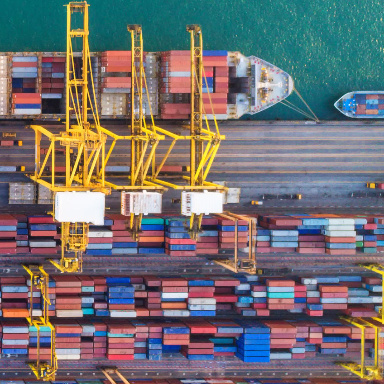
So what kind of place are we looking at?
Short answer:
port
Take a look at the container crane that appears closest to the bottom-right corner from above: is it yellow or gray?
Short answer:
yellow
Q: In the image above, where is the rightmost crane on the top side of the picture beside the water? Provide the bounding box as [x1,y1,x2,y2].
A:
[143,23,227,243]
